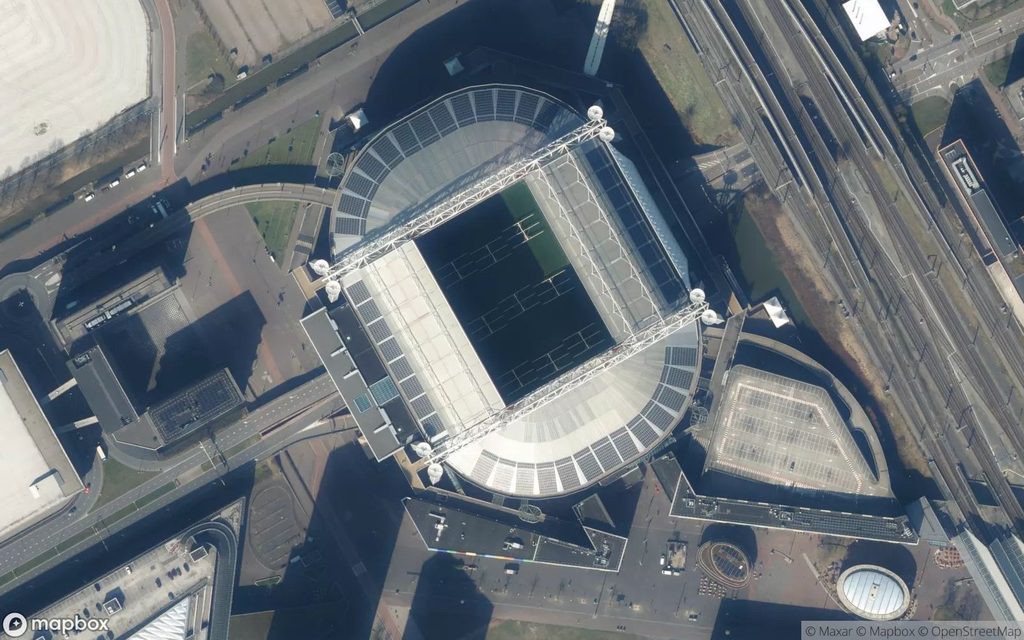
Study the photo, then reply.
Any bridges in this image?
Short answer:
Yes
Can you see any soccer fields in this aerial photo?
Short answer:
Yes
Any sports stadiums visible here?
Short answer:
Yes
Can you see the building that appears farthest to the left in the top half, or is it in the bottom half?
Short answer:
bottom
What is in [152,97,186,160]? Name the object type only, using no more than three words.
bridge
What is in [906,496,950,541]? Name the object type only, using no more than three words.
building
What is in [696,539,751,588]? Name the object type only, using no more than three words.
building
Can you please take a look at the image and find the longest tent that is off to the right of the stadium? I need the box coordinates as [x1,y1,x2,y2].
[763,297,789,328]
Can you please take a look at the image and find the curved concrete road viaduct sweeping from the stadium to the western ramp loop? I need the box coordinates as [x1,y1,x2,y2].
[42,179,337,285]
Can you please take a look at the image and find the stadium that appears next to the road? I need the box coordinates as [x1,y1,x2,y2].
[309,84,724,502]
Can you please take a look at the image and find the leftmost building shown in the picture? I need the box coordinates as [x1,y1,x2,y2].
[0,349,84,538]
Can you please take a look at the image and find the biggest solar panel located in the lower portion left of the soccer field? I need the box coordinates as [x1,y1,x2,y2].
[155,375,238,438]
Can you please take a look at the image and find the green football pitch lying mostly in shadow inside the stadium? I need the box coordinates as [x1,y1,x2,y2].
[416,181,615,404]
